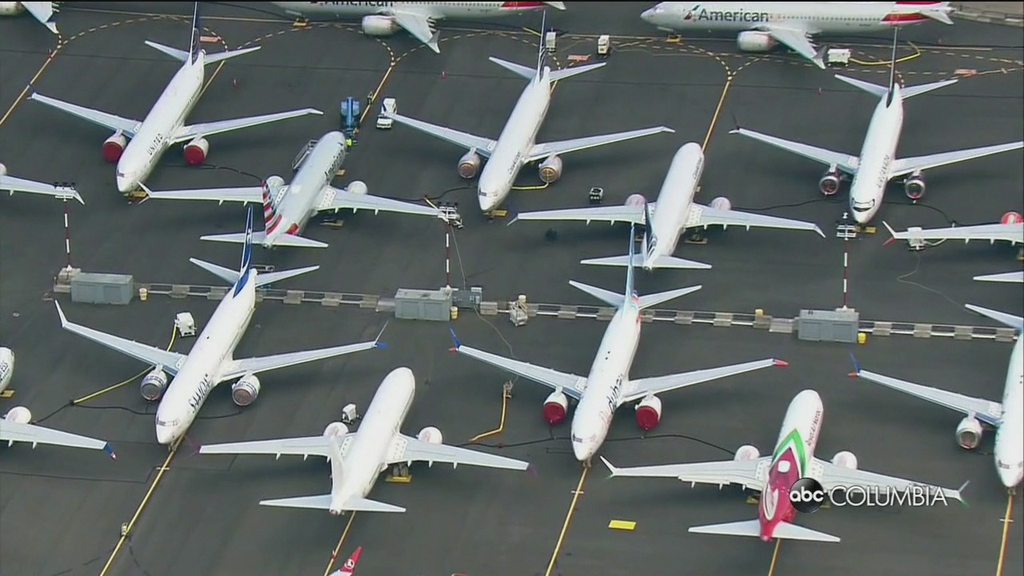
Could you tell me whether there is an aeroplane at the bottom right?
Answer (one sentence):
Yes, at the bottom right there is an aeroplane.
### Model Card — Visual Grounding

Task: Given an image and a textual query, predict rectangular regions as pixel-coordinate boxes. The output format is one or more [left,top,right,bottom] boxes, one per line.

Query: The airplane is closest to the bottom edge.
[325,548,363,576]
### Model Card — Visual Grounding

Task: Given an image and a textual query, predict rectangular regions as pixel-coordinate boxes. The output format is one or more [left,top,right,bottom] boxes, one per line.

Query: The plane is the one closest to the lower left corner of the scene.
[0,349,117,458]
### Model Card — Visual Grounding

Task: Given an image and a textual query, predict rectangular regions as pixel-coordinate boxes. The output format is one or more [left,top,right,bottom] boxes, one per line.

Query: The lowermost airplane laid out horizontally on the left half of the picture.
[184,370,539,515]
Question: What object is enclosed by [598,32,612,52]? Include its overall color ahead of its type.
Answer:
white vehicle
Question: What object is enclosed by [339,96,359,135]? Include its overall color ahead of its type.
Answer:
blue vehicle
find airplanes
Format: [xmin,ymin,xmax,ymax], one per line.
[505,154,825,269]
[269,0,570,51]
[0,170,86,211]
[853,301,1024,492]
[601,394,966,543]
[886,214,1024,284]
[0,349,117,458]
[731,23,1024,227]
[640,0,955,68]
[377,8,676,211]
[58,204,388,442]
[325,548,363,576]
[448,223,786,464]
[136,135,448,248]
[30,0,322,192]
[184,370,539,515]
